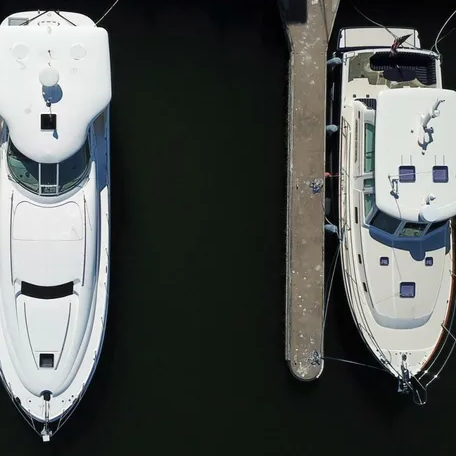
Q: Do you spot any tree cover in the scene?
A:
No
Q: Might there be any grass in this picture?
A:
No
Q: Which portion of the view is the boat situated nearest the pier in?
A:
right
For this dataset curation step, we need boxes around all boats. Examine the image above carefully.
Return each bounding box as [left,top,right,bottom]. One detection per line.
[0,10,112,446]
[332,27,456,414]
